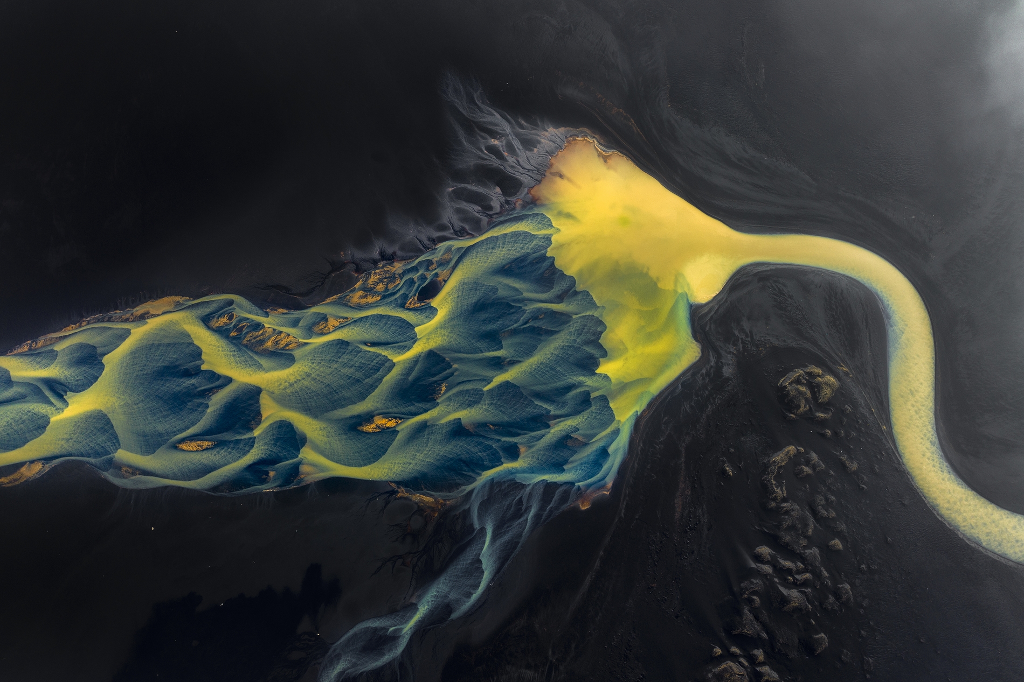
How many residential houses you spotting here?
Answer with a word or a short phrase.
zero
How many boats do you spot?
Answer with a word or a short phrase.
0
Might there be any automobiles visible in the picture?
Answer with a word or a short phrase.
No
